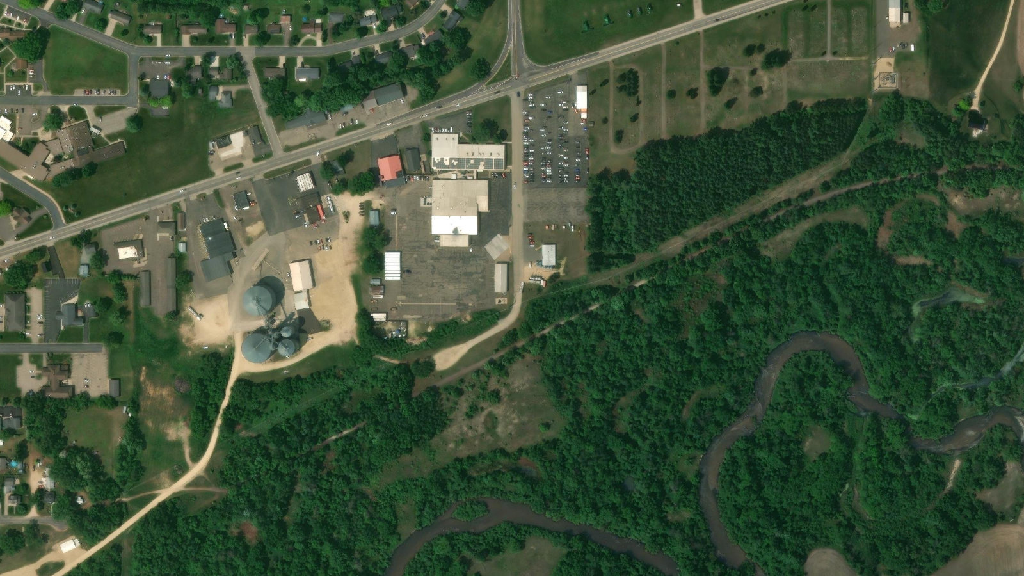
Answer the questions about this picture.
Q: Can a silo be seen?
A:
Yes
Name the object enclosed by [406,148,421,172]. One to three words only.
barn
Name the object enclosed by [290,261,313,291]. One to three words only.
shed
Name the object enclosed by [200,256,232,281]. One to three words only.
building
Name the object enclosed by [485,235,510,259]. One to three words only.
building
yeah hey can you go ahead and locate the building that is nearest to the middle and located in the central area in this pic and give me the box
[495,264,507,292]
